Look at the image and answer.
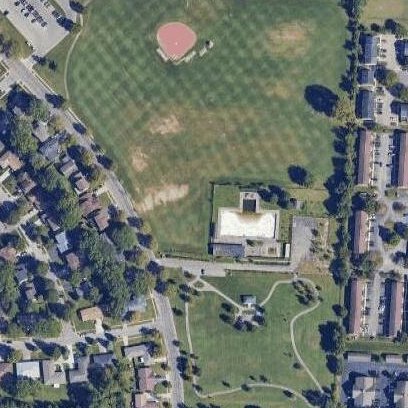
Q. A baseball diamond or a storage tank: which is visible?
baseball diamond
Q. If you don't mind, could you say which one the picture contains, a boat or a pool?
pool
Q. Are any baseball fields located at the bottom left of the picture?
No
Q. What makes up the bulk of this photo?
grass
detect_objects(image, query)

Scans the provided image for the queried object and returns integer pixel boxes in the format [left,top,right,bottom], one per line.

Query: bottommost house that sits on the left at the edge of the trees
[132,392,153,408]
